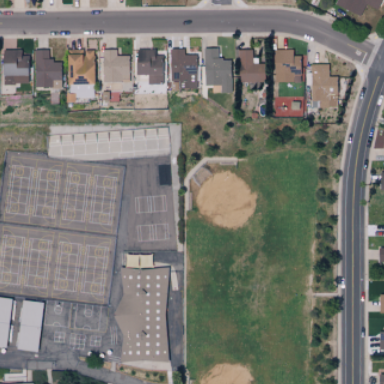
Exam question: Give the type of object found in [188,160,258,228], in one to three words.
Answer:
baseball field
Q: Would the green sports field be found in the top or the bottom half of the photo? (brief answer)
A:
bottom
